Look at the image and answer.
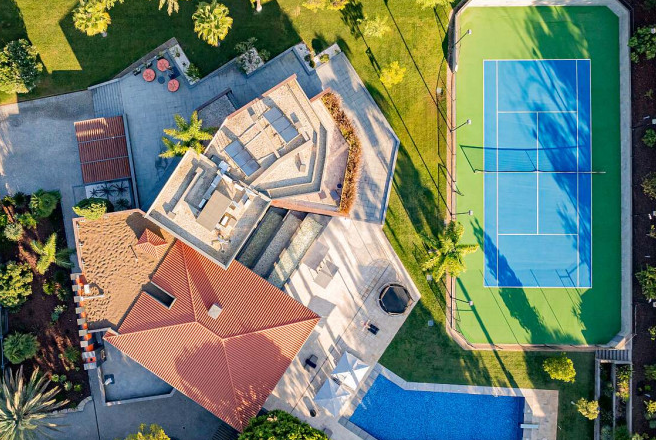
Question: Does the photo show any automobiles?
No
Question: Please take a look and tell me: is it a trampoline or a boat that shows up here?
trampoline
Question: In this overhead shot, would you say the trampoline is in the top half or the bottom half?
bottom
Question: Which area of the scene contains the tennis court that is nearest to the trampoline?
right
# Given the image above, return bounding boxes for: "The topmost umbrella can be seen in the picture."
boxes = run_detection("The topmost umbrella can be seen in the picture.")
[331,352,369,390]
